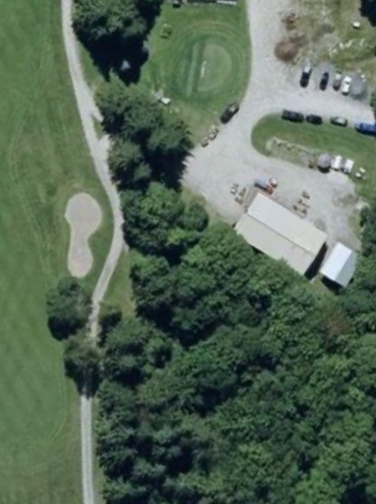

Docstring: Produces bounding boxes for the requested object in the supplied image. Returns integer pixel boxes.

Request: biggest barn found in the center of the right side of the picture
[233,184,326,276]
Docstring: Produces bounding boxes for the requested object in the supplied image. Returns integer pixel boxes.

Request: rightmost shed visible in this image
[322,243,360,285]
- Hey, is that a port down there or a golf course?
golf course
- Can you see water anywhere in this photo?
No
